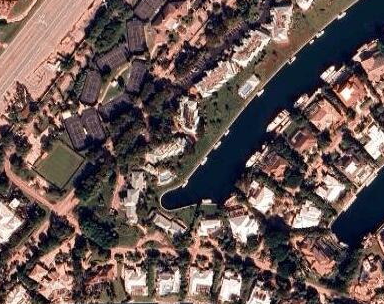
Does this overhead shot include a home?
Yes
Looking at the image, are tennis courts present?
Yes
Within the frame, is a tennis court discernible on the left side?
Yes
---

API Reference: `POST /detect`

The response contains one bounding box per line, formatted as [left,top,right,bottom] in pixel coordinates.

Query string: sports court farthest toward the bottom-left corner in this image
[32,140,85,188]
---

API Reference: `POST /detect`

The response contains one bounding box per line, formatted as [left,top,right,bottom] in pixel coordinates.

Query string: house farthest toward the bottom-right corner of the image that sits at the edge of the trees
[344,259,383,302]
